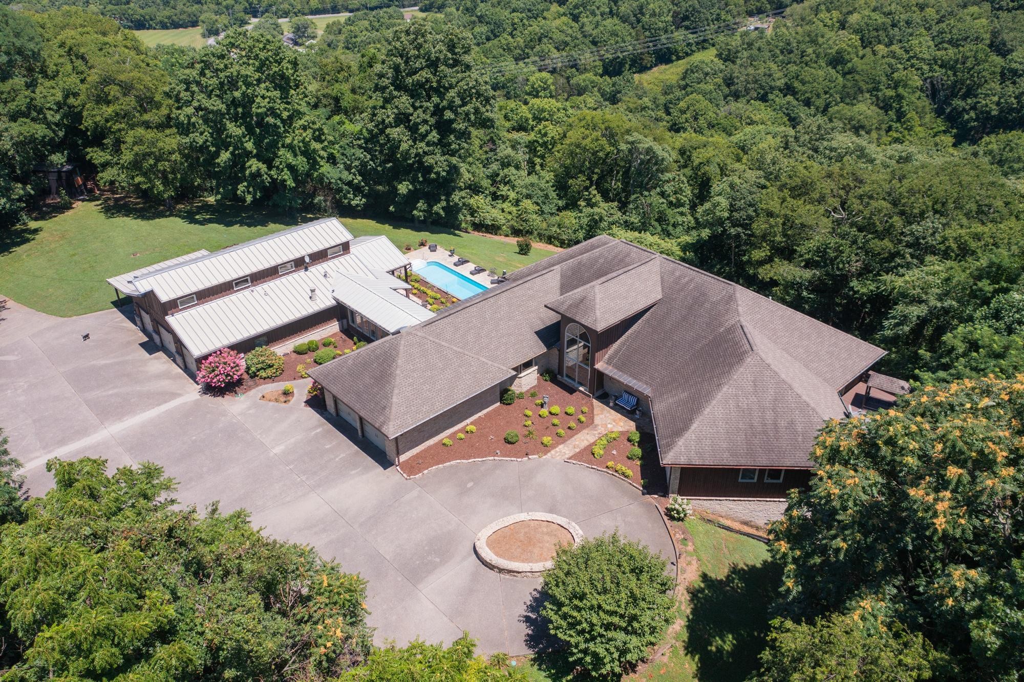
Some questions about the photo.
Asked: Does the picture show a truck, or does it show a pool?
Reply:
pool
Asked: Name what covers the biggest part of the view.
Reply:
trees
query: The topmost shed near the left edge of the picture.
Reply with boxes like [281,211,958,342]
[14,161,91,203]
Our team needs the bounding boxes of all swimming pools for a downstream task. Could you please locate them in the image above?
[408,251,492,299]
